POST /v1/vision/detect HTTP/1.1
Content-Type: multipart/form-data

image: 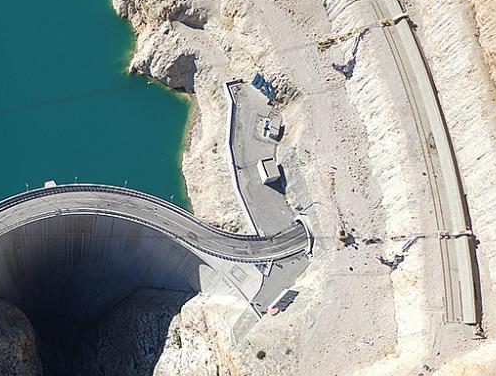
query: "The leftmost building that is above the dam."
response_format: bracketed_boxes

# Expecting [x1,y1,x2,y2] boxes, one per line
[258,155,282,183]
